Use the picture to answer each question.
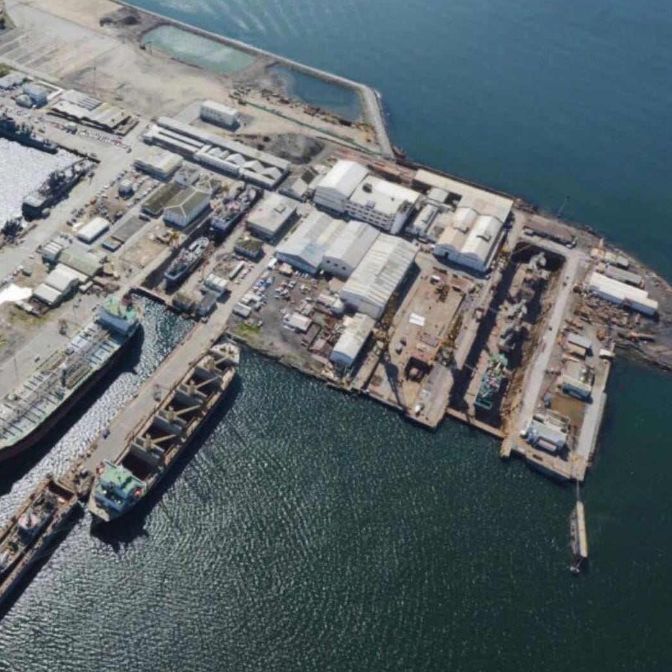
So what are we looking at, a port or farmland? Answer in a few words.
port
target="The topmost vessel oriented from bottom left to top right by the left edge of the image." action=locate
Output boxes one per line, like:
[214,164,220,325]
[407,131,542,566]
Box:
[19,157,96,220]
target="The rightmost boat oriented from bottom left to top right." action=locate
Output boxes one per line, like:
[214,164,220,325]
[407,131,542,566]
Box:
[566,556,581,572]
